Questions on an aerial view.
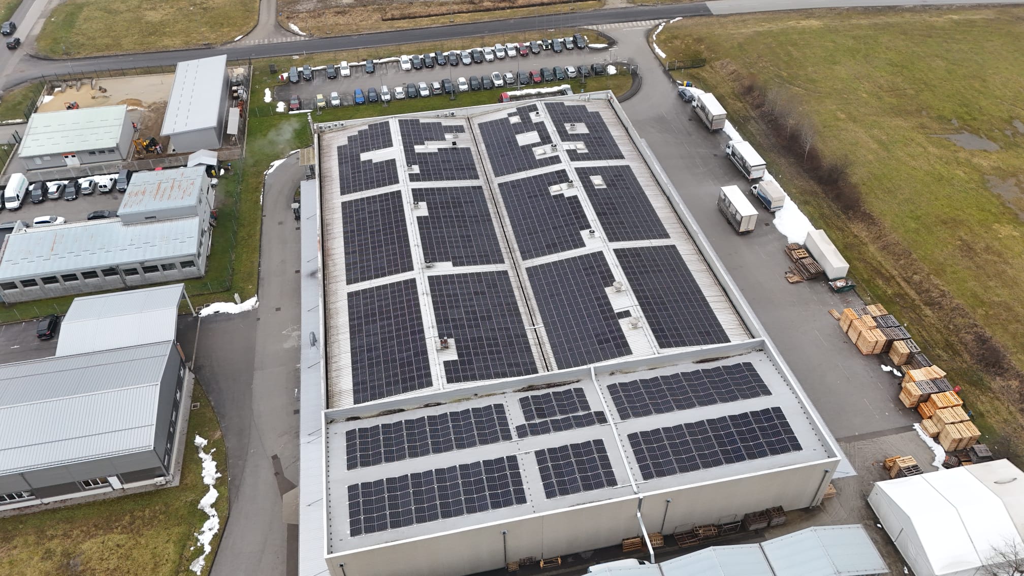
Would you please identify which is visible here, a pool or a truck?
truck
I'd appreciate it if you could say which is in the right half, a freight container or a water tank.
freight container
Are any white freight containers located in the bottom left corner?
No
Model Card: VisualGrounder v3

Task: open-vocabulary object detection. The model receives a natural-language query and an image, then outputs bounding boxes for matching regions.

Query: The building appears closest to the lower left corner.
[0,340,193,516]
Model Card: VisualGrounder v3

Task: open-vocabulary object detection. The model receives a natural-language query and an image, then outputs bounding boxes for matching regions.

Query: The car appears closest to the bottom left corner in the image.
[36,314,61,342]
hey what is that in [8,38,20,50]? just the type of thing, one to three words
vehicle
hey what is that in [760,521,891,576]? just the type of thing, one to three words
building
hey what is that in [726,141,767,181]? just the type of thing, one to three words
truck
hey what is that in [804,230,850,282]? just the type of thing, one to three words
shipping container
